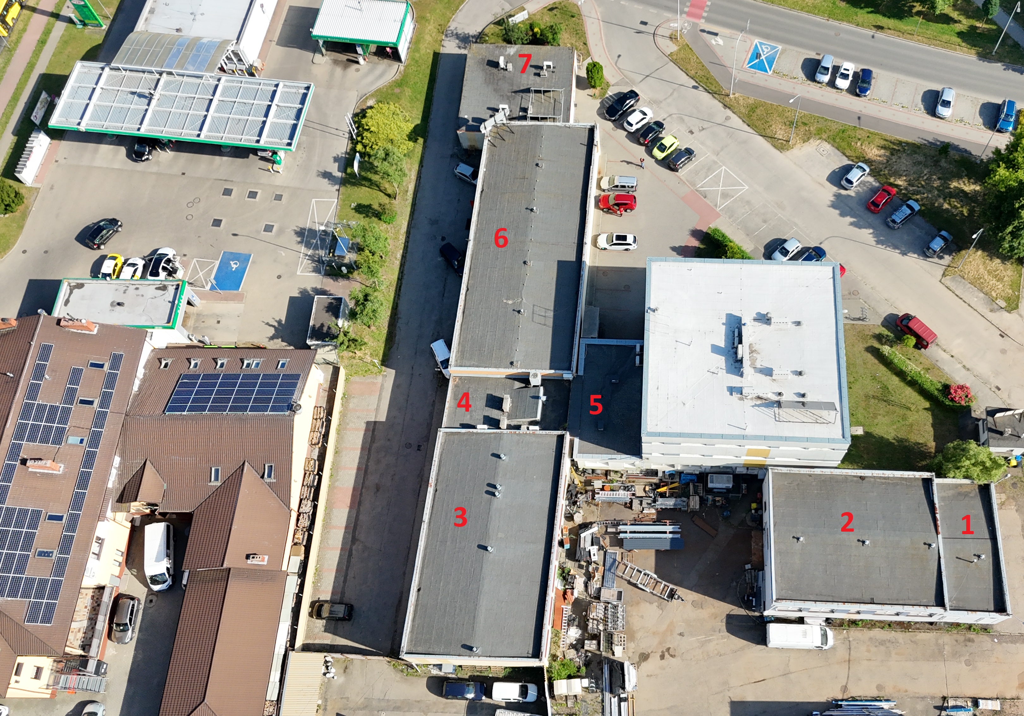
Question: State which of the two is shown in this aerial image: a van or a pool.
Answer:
van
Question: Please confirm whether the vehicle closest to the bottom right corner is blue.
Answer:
No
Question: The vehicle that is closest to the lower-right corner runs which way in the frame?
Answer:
from left to right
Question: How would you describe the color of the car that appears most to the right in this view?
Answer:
blue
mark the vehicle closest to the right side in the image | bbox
[995,98,1018,133]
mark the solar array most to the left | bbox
[0,343,117,624]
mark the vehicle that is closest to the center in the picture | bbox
[428,338,452,380]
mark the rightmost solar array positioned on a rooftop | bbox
[164,372,301,412]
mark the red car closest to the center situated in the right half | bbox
[598,193,637,214]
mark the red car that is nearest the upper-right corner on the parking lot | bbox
[863,184,899,216]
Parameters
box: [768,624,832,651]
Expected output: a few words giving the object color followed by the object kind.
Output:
white vehicle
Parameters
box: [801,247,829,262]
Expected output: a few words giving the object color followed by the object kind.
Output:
blue car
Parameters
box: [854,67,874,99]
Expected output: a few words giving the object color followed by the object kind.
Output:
blue car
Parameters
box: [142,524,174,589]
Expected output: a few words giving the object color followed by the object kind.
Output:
white van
